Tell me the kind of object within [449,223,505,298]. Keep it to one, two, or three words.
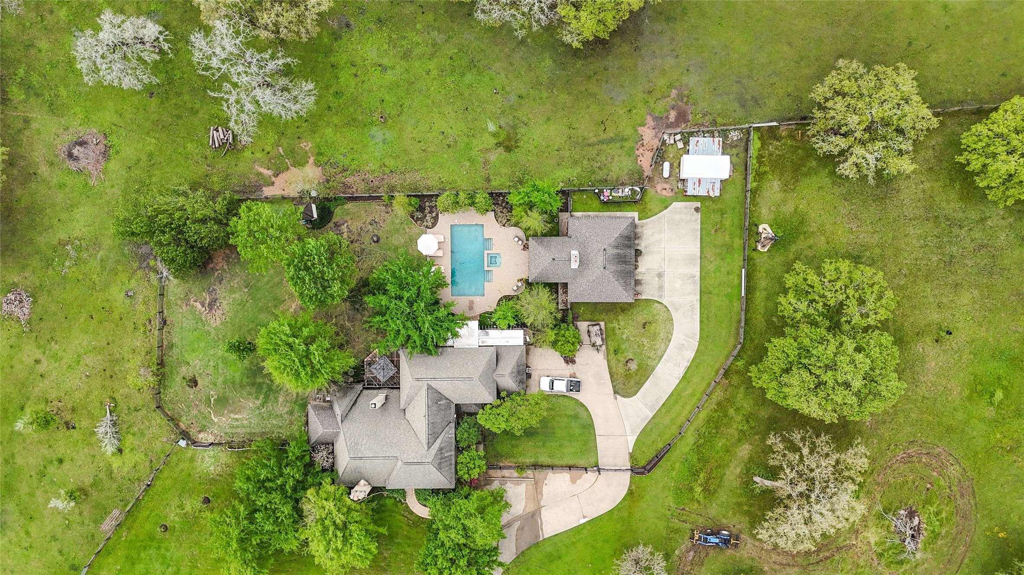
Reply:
swimming pool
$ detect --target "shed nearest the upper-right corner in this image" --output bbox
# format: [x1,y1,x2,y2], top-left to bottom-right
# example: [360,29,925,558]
[680,136,732,196]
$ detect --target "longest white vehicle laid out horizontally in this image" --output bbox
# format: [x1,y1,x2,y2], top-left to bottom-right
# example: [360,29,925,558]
[539,377,582,394]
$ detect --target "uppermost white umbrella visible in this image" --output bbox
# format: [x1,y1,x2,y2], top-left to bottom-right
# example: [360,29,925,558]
[418,235,438,255]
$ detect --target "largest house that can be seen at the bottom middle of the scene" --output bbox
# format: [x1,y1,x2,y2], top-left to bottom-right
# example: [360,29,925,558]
[308,345,526,502]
